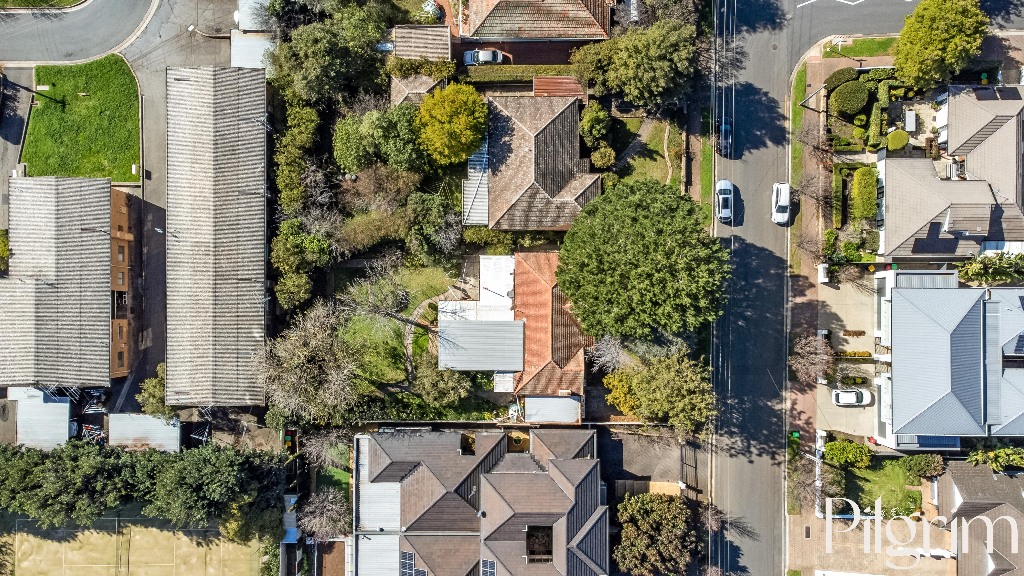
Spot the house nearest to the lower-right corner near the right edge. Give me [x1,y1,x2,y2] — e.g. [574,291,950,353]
[929,459,1024,576]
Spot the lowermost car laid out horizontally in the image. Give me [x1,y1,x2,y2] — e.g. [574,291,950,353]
[830,388,870,407]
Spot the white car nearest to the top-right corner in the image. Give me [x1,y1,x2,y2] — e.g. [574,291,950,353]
[769,182,790,225]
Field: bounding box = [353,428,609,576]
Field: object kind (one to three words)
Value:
house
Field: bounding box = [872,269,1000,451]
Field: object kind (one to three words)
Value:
house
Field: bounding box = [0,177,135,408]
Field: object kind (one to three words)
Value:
building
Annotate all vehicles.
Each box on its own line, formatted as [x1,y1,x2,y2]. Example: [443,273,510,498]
[830,388,870,407]
[463,48,503,66]
[715,117,735,159]
[714,180,734,224]
[769,182,790,225]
